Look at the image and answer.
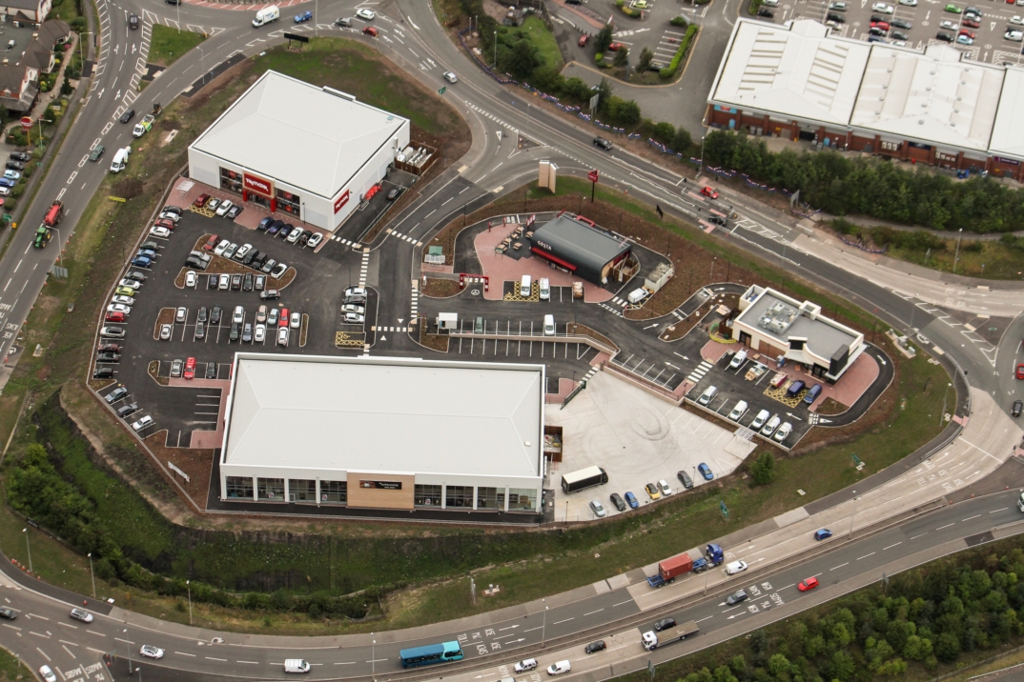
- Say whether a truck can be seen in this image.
Yes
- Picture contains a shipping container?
Yes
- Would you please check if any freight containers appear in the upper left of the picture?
No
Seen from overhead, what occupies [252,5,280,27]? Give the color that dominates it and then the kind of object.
white truck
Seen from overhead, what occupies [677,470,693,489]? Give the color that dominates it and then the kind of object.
gray car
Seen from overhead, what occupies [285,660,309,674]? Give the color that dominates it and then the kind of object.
white vehicle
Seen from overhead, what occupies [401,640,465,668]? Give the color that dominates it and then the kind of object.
blue bus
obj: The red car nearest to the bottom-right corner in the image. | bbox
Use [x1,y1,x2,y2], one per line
[797,577,820,592]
